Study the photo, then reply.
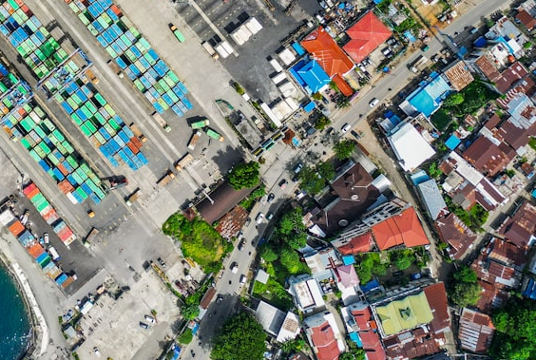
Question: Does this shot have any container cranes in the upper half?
Yes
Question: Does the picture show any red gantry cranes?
No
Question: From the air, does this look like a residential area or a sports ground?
residential area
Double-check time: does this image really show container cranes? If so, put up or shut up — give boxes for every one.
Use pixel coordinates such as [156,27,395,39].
[0,75,33,124]
[34,44,91,100]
